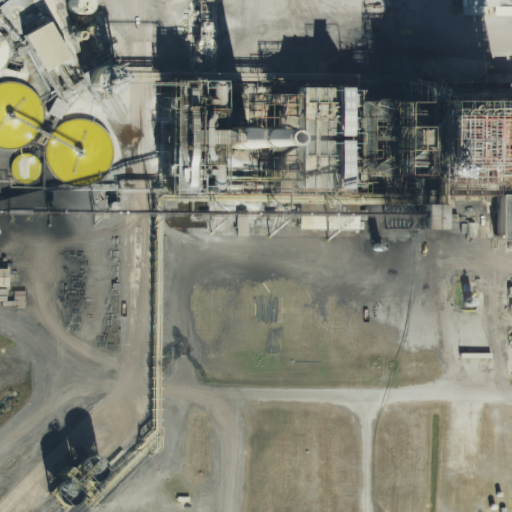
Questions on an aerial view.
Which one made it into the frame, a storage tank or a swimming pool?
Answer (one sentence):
The one in the frame is a storage tank.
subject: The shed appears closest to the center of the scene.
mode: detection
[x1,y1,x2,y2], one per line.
[236,214,250,236]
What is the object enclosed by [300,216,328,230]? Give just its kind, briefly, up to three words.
building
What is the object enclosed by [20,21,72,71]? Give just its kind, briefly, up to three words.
building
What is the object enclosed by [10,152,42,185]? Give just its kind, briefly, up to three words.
storage tank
